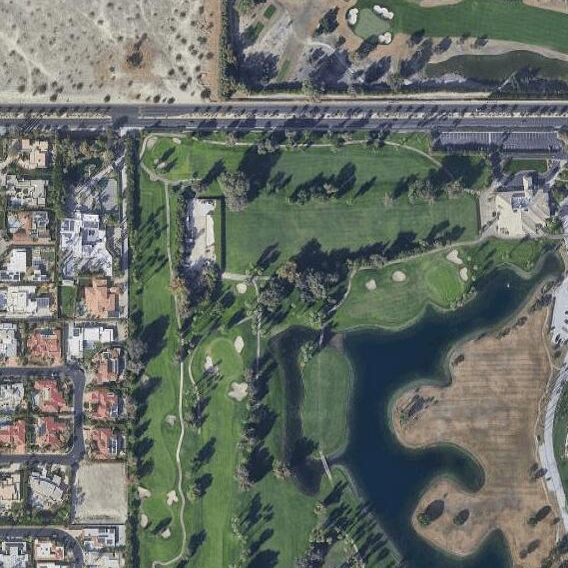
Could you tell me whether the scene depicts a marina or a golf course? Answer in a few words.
golf course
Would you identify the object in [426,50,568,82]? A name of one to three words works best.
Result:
pond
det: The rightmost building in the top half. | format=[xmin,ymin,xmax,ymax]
[497,176,551,235]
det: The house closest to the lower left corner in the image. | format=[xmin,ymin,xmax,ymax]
[0,542,27,568]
